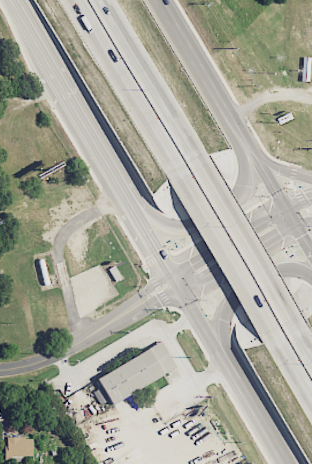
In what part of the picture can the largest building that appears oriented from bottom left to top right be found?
bottom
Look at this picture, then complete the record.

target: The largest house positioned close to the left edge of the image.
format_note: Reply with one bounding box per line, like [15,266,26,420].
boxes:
[4,438,32,456]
